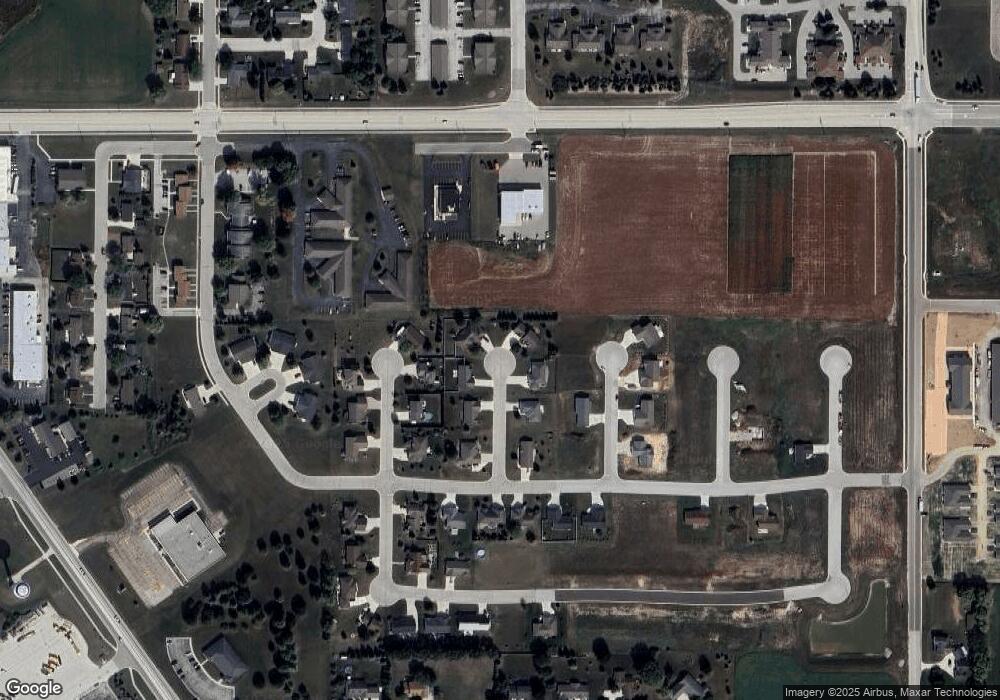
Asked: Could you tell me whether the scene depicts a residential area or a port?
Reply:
residential area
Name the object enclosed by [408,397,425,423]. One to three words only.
house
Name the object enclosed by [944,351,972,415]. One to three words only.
building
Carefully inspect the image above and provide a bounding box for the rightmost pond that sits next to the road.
[811,580,887,654]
